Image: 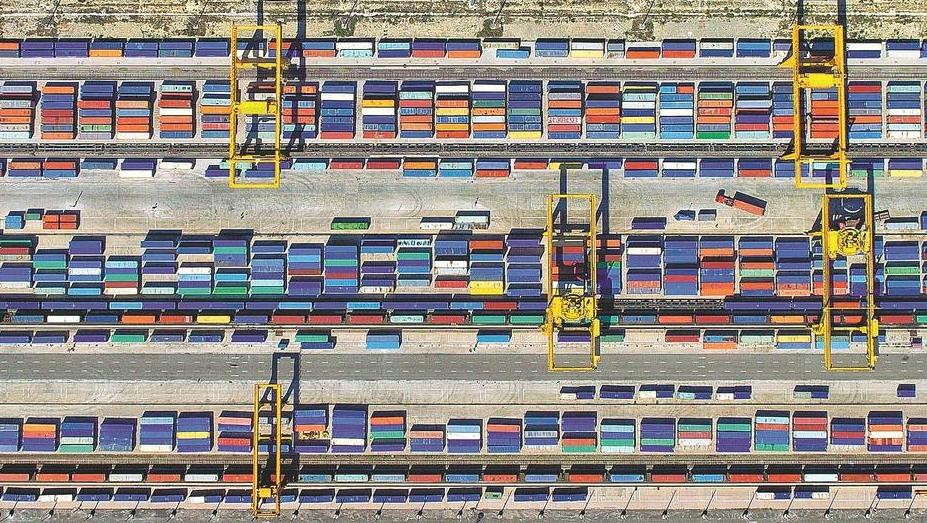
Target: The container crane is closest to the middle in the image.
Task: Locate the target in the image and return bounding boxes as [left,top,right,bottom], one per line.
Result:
[534,193,604,369]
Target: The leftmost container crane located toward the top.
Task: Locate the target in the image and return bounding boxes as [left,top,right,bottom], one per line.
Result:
[229,25,298,187]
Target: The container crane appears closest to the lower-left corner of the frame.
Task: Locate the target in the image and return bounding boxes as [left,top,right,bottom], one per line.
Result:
[249,385,297,516]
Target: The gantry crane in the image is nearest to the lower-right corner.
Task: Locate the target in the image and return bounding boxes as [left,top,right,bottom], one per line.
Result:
[800,192,880,368]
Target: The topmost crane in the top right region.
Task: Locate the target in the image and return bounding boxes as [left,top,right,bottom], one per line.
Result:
[771,26,847,188]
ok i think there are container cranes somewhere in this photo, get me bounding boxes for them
[771,26,847,188]
[229,25,298,187]
[800,192,880,368]
[249,385,297,516]
[534,193,604,369]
